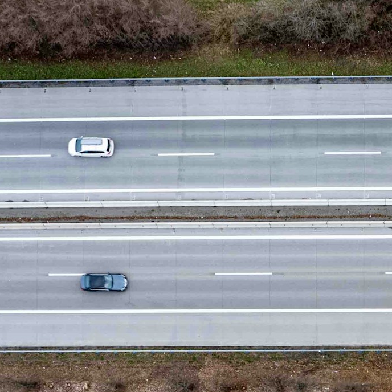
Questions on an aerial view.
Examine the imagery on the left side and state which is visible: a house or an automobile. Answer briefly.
automobile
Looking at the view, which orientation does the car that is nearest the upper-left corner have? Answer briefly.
from left to right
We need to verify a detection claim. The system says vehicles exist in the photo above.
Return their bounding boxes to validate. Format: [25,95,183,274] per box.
[69,137,115,157]
[80,272,130,292]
